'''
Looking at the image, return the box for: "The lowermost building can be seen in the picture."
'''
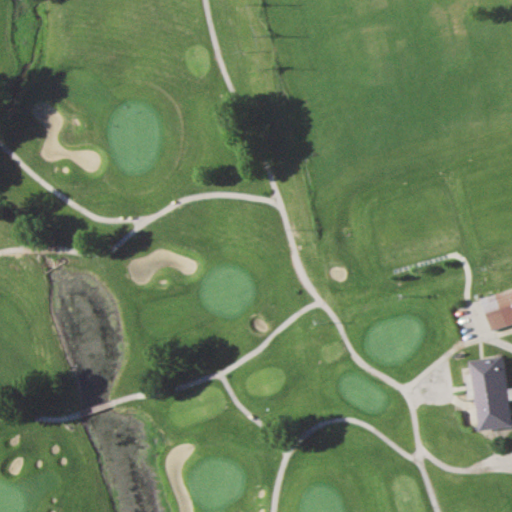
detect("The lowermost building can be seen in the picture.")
[470,356,512,432]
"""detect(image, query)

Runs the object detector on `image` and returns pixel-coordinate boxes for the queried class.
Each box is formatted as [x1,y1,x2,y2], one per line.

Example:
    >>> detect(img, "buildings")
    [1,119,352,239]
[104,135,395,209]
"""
[470,356,512,432]
[486,290,512,331]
